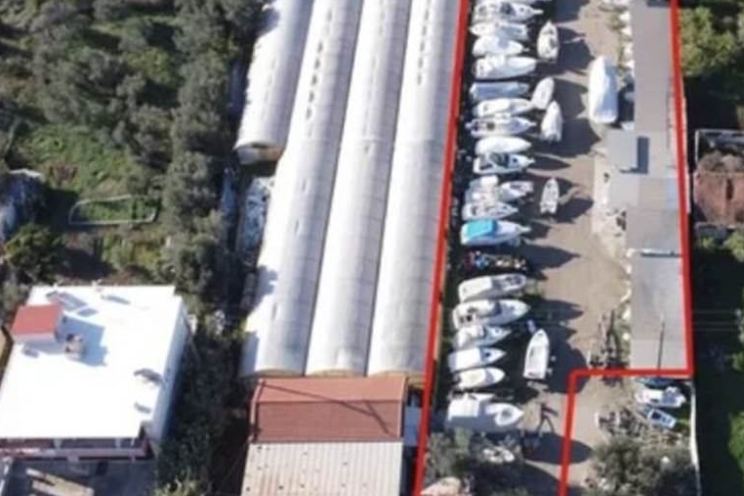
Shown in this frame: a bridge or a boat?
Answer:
boat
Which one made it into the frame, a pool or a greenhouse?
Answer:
greenhouse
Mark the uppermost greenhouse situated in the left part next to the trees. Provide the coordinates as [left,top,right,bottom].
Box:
[237,0,314,164]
